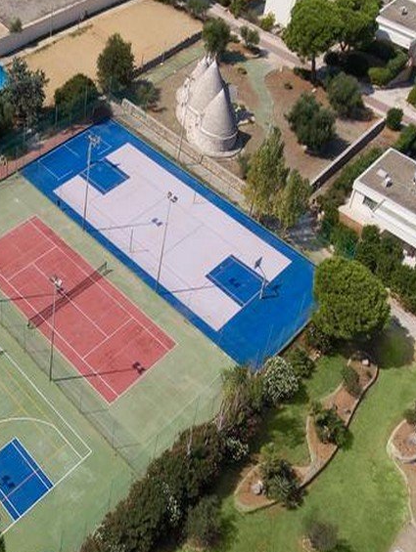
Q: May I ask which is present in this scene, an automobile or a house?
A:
house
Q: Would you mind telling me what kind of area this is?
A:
sports ground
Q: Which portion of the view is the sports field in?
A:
top left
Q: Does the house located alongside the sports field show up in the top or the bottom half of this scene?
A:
top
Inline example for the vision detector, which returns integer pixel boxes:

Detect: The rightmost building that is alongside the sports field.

[172,56,236,158]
